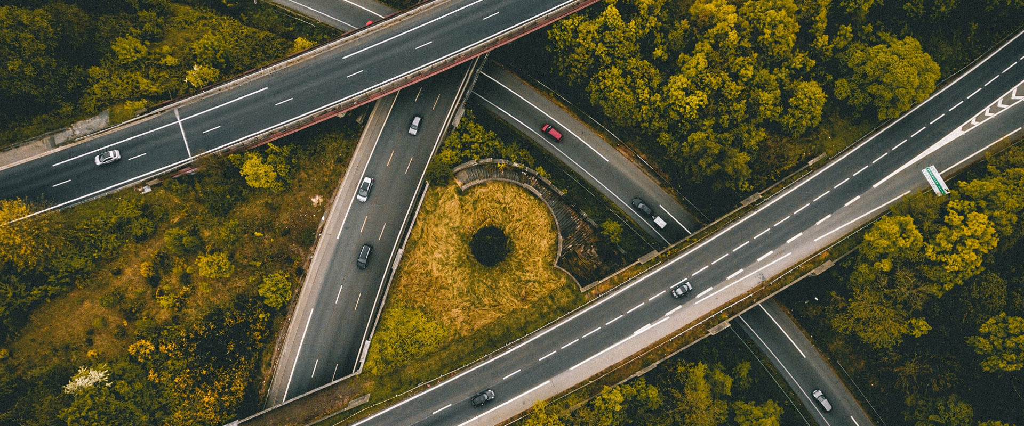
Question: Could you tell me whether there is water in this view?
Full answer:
No, the scene doesn't show any water.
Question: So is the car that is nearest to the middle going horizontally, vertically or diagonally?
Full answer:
The car that is nearest to the middle is oriented diagonally.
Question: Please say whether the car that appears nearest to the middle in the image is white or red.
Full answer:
The color of the car that appears nearest to the middle is red.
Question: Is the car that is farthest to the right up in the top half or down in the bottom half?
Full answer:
Seen from above, the car that is farthest to the right lies in the bottom half of the view.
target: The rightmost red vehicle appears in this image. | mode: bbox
[541,123,565,143]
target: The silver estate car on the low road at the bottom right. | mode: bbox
[812,390,837,416]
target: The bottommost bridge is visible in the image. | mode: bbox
[217,371,378,426]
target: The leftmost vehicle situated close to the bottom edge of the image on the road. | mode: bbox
[470,390,495,409]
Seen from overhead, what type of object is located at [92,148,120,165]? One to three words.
car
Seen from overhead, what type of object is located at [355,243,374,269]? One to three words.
car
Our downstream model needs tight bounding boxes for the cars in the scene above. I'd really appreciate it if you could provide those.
[354,175,376,202]
[631,195,656,217]
[406,115,422,135]
[470,390,495,409]
[92,148,120,165]
[812,390,837,416]
[355,243,374,269]
[670,280,694,299]
[541,123,565,143]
